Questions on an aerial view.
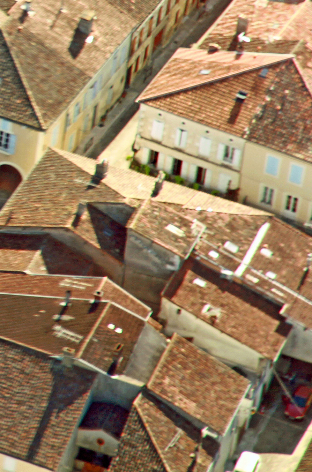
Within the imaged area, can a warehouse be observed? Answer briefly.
No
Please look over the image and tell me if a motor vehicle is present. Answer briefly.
Yes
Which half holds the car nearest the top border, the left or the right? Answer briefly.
right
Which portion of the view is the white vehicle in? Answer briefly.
bottom right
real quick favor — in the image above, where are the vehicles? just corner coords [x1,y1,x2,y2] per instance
[233,444,263,472]
[283,379,312,421]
